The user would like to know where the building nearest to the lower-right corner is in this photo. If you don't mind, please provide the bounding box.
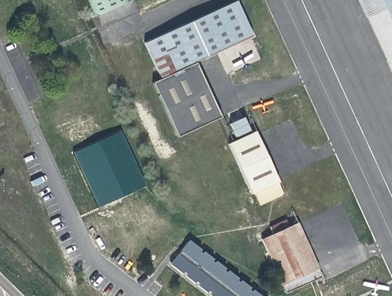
[262,220,323,292]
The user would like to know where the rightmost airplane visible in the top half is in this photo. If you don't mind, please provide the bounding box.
[252,100,274,114]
